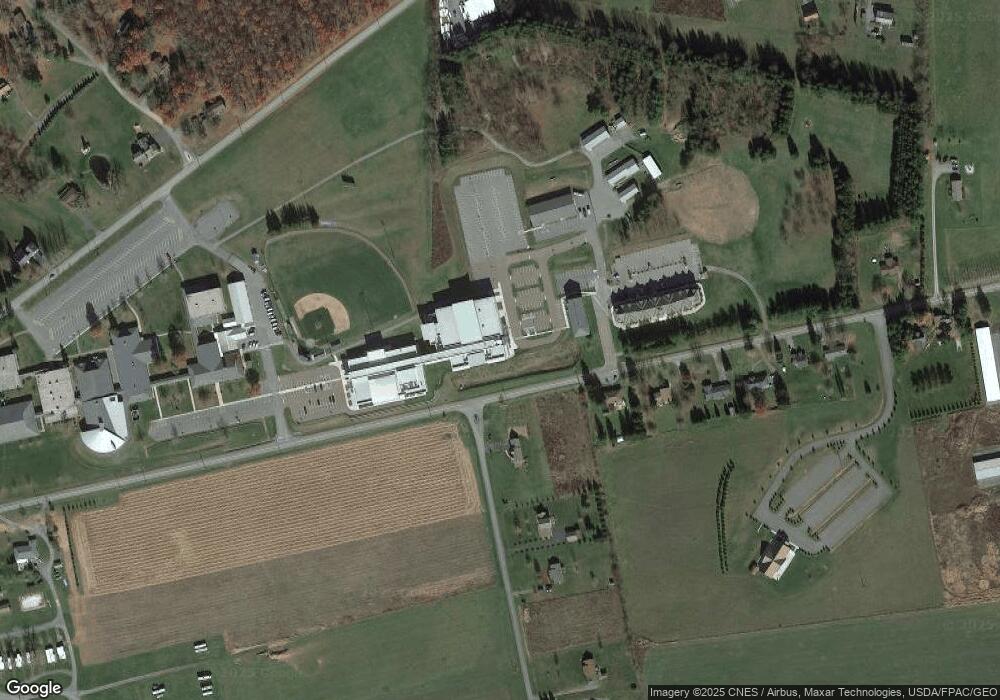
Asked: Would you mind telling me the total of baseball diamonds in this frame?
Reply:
1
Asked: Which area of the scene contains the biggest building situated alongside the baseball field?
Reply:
center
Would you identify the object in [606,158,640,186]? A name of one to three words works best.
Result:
shed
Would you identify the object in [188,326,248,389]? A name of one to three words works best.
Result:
building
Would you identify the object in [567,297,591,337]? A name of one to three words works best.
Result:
house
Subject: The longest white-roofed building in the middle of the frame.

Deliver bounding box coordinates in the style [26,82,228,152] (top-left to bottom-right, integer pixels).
[348,296,506,408]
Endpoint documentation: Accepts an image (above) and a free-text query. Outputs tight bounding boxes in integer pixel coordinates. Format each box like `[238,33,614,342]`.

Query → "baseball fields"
[266,227,418,349]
